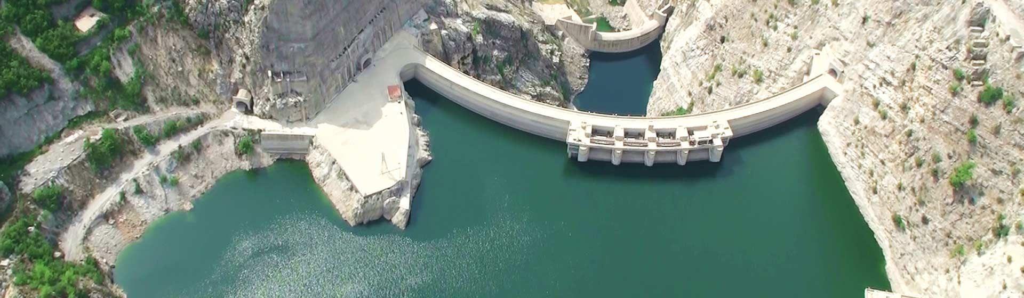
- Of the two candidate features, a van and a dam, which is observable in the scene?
dam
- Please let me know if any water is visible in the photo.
Yes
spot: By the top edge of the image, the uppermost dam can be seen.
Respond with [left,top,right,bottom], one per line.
[563,0,673,56]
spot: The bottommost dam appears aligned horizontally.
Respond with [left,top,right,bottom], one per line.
[398,38,844,167]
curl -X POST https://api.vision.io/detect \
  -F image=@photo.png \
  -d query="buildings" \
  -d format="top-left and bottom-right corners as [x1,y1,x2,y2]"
[74,8,107,38]
[387,85,401,100]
